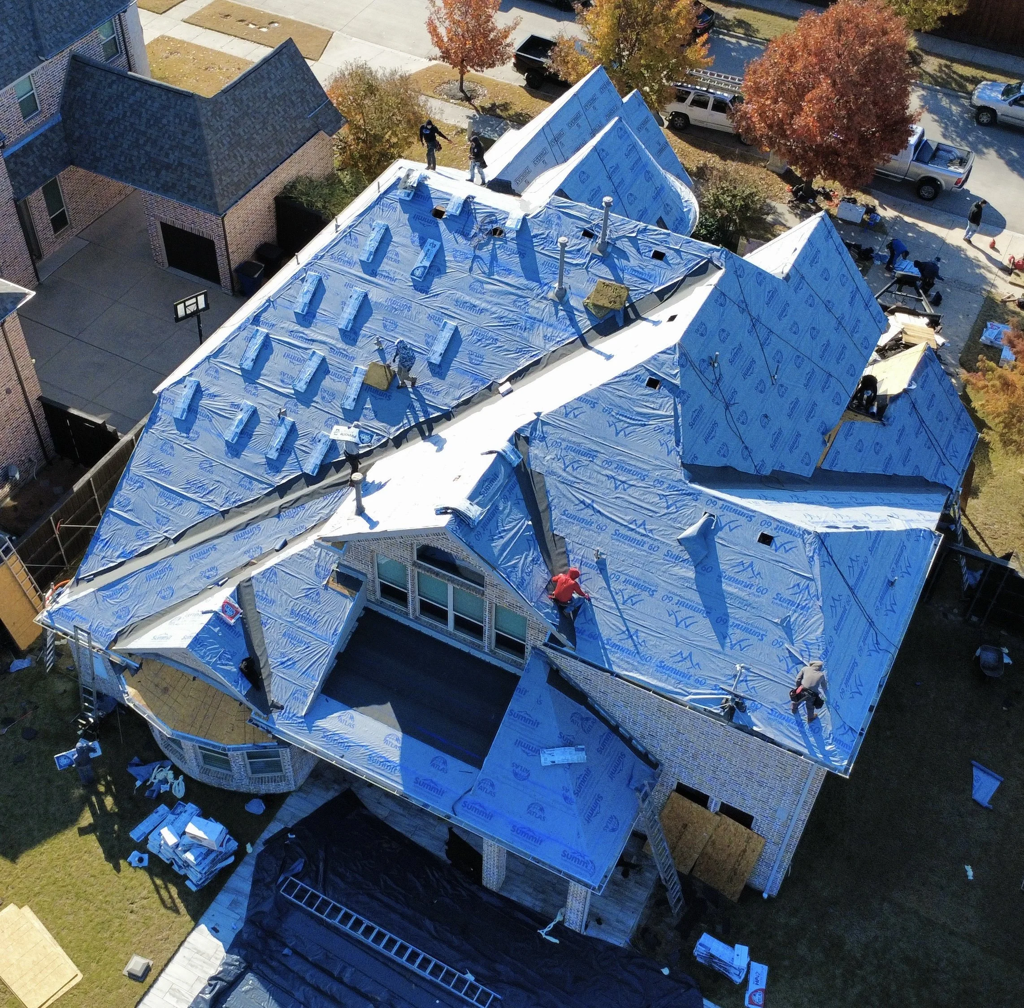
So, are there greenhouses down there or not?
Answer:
No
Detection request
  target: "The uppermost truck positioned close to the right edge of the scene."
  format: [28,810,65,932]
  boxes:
[962,79,1024,128]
